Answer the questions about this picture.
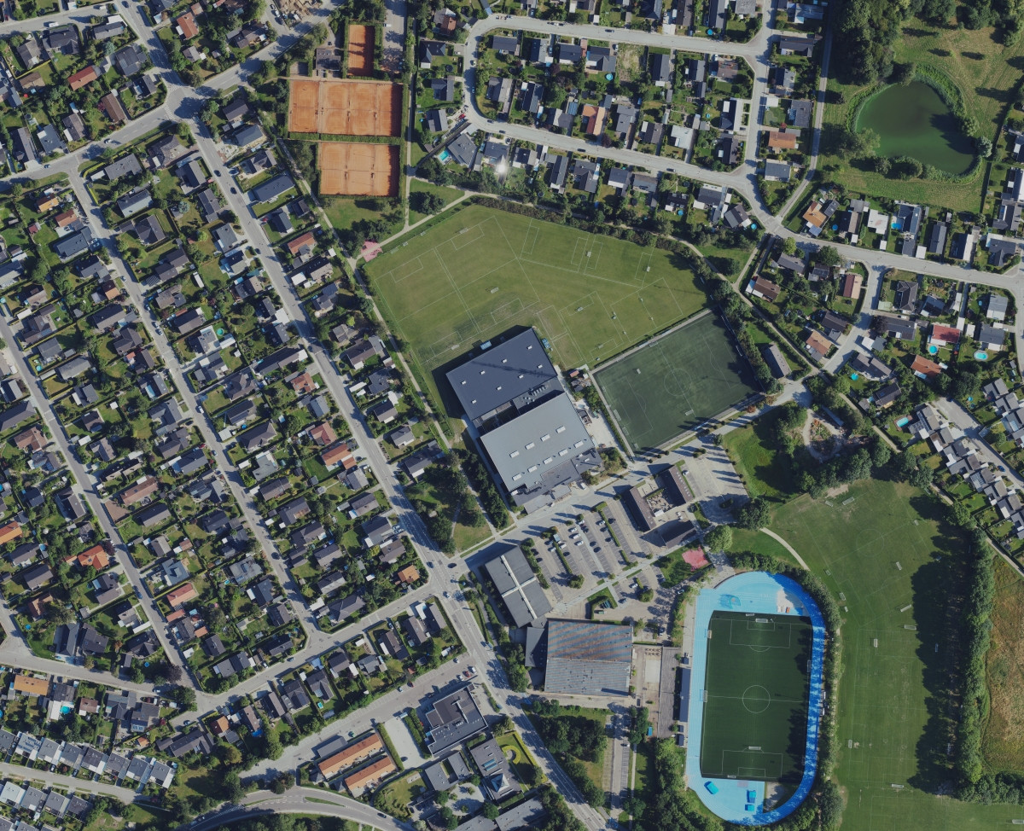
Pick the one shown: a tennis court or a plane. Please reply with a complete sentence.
This aerial view contains a tennis court.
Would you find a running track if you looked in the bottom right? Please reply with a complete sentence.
Yes, you'll find a running track in the bottom right.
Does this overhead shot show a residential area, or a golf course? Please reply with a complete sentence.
The picture captures a residential area.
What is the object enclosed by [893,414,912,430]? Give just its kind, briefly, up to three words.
swimming pool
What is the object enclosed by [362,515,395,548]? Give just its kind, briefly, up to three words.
house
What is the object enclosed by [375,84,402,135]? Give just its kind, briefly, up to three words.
tennis court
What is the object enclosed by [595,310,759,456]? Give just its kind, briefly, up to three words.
soccer field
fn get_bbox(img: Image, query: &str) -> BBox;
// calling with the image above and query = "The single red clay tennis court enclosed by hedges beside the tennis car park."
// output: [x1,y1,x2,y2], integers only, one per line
[348,25,373,75]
